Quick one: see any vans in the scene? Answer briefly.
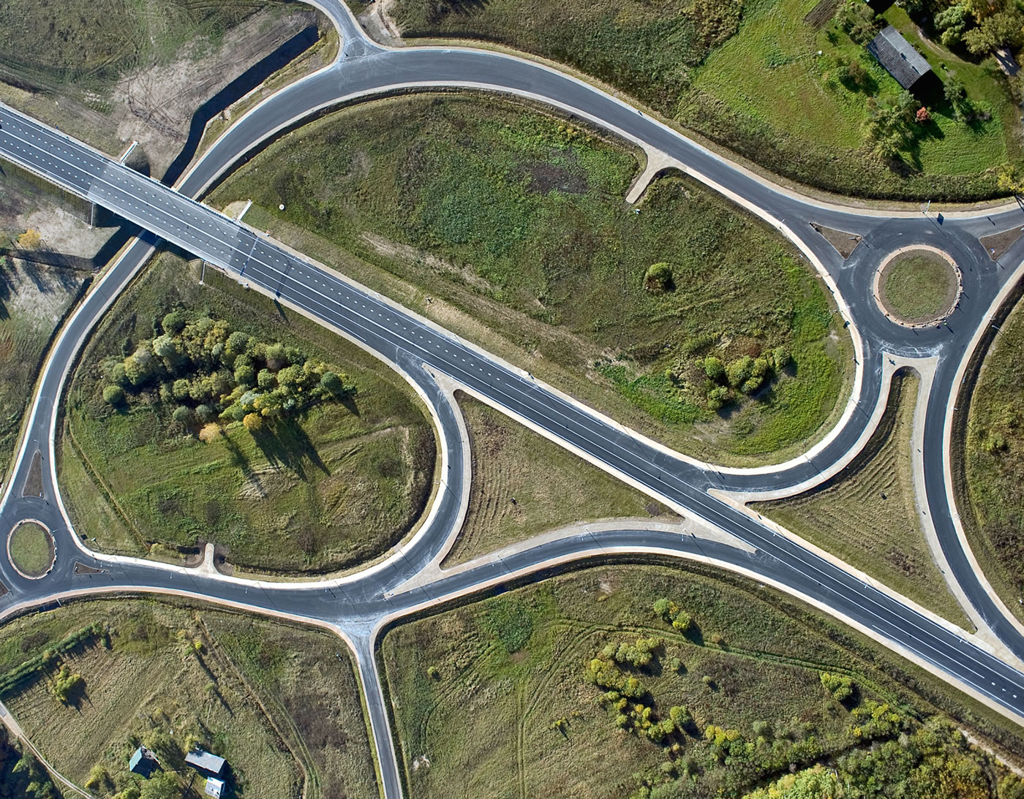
No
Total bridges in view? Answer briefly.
one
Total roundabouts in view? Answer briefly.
2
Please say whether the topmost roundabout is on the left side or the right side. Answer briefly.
right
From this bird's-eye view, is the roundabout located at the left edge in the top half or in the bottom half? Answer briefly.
bottom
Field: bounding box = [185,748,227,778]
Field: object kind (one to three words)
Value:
shed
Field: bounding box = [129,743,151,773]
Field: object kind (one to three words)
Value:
house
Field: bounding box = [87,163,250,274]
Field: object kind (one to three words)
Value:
bridge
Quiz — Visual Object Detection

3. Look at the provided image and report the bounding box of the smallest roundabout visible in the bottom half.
[6,519,57,581]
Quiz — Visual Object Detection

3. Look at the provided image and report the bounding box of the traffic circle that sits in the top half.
[873,245,965,327]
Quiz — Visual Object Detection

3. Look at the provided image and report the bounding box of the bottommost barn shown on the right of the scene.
[865,25,931,90]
